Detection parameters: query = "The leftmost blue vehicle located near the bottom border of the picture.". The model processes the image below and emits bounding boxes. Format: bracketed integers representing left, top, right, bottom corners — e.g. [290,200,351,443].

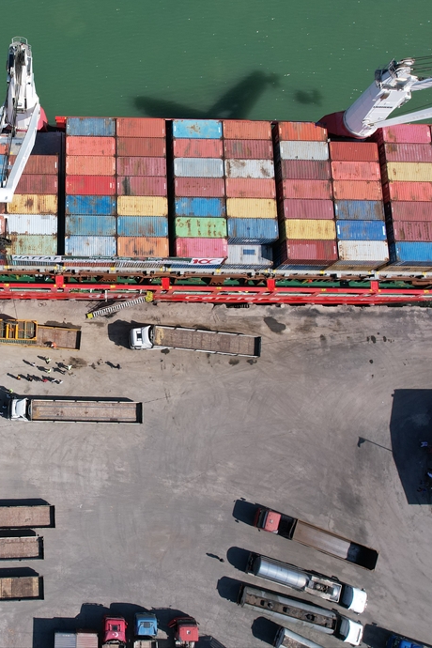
[133,608,160,648]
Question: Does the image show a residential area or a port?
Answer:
port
